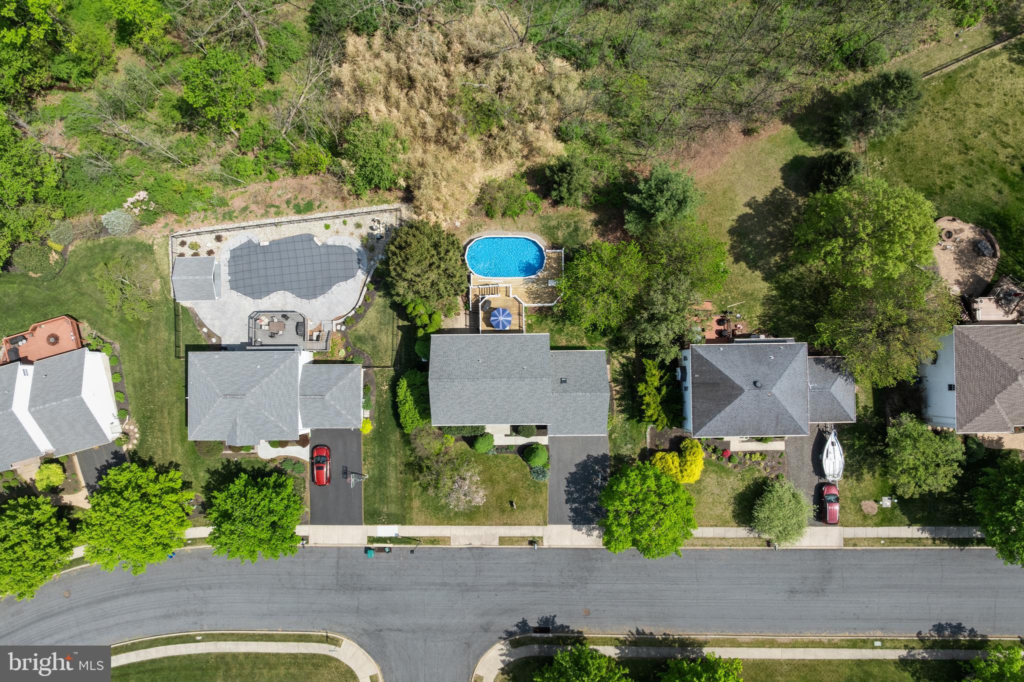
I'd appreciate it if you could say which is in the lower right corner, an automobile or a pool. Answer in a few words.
automobile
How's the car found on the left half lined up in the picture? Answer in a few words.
vertically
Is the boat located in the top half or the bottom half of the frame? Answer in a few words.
bottom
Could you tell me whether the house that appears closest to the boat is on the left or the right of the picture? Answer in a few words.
right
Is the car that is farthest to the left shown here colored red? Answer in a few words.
Yes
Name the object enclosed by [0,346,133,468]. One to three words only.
house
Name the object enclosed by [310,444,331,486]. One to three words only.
car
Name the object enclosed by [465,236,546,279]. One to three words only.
swimming pool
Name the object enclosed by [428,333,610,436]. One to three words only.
house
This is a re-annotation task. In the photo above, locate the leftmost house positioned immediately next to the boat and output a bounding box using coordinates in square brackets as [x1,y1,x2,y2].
[676,337,856,438]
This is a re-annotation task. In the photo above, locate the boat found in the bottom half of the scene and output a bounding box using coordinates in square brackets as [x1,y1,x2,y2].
[822,423,845,493]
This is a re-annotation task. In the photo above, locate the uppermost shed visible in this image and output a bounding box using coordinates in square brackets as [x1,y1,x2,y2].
[171,255,221,302]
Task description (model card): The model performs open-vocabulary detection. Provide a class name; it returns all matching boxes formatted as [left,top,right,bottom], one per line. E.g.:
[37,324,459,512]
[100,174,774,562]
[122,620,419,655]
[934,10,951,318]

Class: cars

[310,444,331,486]
[820,482,843,524]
